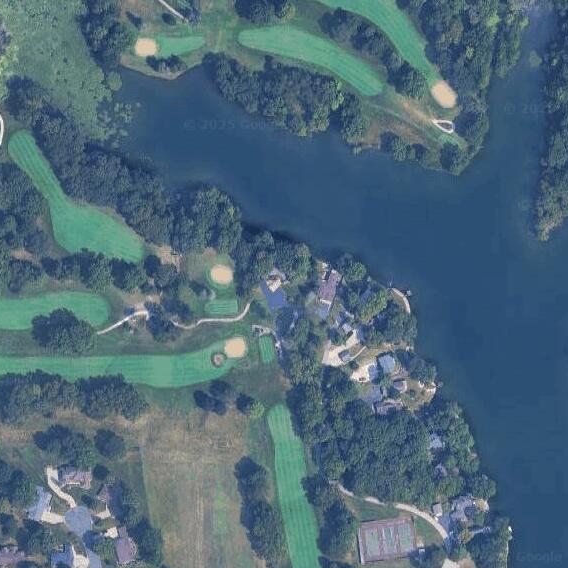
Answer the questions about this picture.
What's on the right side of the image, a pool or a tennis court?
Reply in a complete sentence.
What appears on the right side of the image is a tennis court.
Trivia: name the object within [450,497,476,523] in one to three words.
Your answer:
house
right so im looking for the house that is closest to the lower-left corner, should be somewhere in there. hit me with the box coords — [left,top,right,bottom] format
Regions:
[0,546,25,564]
